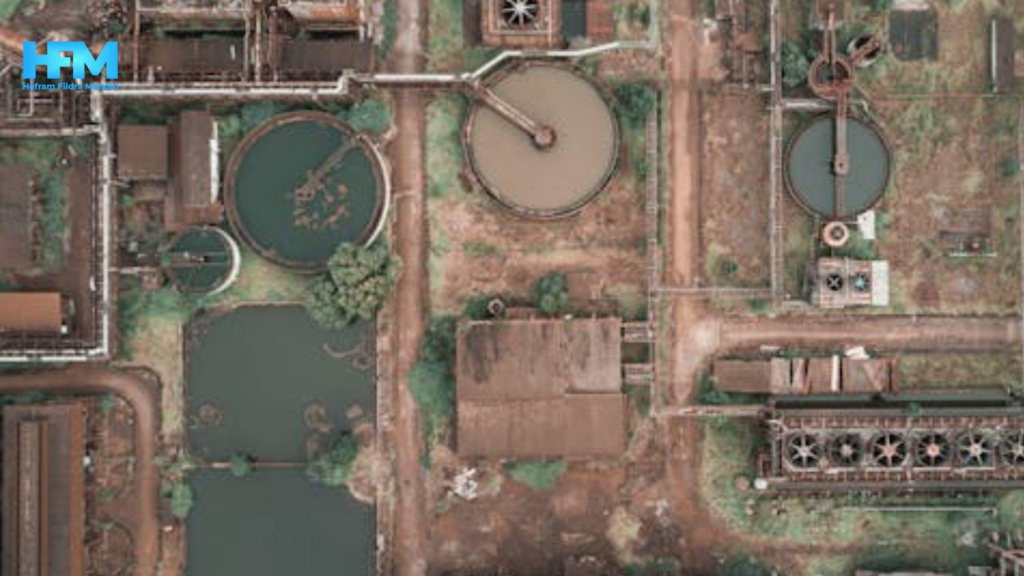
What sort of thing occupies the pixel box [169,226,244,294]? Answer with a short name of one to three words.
storage tank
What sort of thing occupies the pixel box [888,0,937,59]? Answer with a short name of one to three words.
shed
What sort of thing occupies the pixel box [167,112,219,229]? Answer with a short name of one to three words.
shed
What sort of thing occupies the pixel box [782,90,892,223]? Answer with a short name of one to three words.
storage tank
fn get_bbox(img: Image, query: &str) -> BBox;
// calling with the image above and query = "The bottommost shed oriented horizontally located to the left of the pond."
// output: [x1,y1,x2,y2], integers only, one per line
[0,293,68,326]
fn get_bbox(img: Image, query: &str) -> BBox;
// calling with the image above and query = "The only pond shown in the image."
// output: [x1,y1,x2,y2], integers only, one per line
[182,304,378,576]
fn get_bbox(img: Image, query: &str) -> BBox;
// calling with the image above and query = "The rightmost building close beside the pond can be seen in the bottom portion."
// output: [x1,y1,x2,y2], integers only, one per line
[456,319,627,455]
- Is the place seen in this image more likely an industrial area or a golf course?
industrial area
